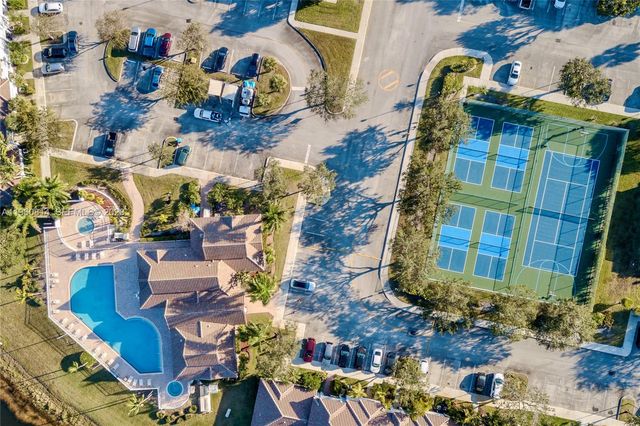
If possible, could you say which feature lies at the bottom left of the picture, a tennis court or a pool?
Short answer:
pool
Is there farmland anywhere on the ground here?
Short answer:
No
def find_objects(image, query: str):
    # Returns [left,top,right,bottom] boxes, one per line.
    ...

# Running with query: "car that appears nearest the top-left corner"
[39,1,64,14]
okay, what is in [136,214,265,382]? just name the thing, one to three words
building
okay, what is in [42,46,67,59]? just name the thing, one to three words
vehicle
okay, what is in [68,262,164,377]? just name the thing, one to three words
swimming pool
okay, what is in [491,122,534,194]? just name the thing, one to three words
sports court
